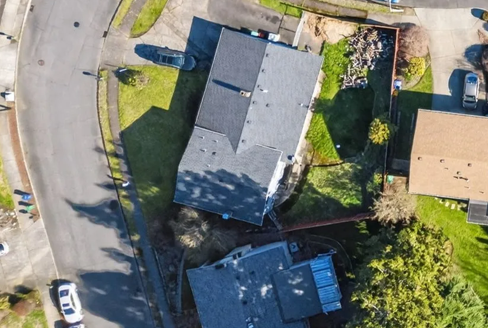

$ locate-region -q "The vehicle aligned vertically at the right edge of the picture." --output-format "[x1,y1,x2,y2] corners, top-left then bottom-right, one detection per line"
[461,70,480,111]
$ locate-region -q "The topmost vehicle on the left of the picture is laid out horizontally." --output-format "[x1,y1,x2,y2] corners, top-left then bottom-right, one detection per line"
[156,47,199,69]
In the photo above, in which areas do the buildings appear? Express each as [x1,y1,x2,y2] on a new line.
[409,108,488,225]
[186,232,322,328]
[173,23,326,228]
